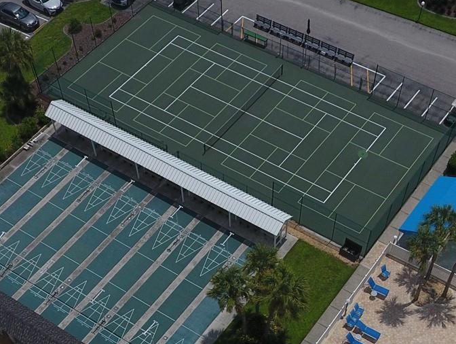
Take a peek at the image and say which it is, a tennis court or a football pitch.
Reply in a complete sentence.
There is a tennis court in the scene.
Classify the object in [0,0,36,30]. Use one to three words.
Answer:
car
